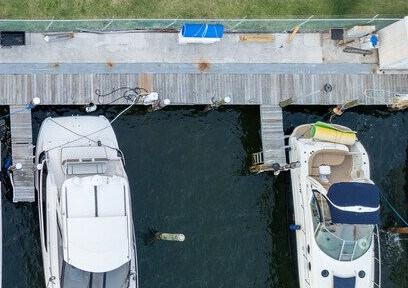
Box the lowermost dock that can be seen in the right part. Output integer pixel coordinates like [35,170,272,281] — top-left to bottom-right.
[248,105,286,170]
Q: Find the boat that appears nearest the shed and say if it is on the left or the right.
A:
right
